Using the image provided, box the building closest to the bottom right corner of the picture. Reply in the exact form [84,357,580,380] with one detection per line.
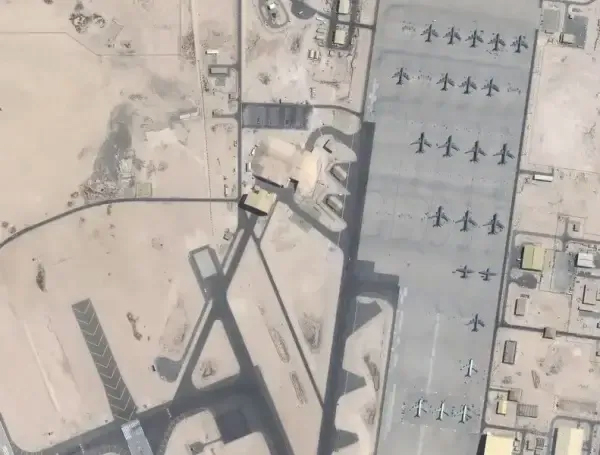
[555,427,585,455]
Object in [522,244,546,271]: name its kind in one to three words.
hangar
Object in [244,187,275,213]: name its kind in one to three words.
hangar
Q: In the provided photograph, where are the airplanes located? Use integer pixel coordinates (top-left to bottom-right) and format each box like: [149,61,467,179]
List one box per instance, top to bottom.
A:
[421,24,438,42]
[442,26,460,45]
[465,29,482,47]
[488,33,505,51]
[510,35,527,53]
[391,67,409,85]
[437,73,454,91]
[459,76,476,94]
[482,78,499,96]
[411,132,431,153]
[438,136,459,157]
[465,141,486,162]
[493,143,513,165]
[429,206,449,228]
[455,210,476,232]
[483,214,503,235]
[456,265,475,279]
[478,268,496,281]
[467,314,483,331]
[461,360,478,378]
[410,399,427,418]
[432,402,449,420]
[454,405,471,423]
